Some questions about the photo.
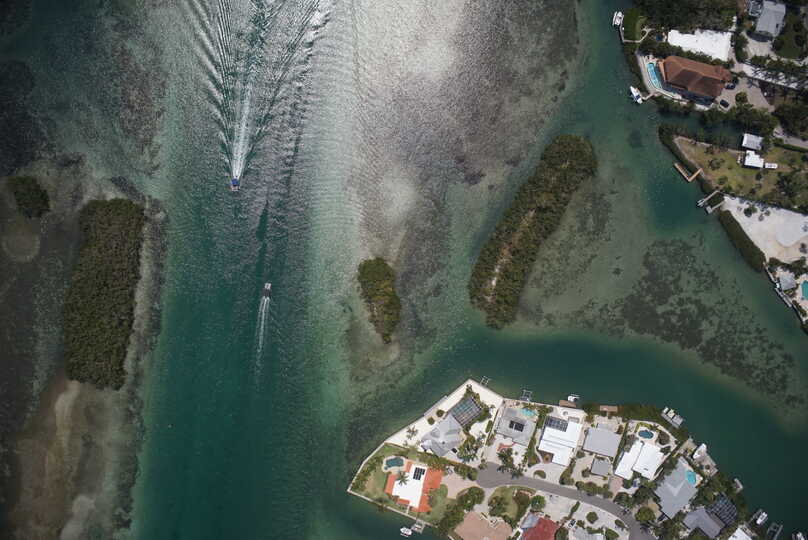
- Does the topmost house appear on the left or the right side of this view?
right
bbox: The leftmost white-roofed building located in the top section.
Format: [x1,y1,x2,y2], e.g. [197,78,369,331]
[666,30,731,61]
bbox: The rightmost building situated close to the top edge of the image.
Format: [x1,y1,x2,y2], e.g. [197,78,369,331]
[752,1,785,39]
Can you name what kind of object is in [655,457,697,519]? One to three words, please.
house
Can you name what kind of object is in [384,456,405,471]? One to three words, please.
swimming pool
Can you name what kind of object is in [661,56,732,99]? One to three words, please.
house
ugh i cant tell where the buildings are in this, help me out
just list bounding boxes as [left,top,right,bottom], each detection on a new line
[591,457,611,476]
[497,410,540,451]
[682,506,725,538]
[421,415,462,456]
[456,512,511,540]
[615,440,664,480]
[724,527,751,540]
[778,275,796,291]
[752,1,785,39]
[520,512,558,540]
[583,423,620,457]
[742,133,763,150]
[743,150,764,167]
[655,457,697,519]
[539,421,582,467]
[666,30,731,61]
[385,460,442,512]
[661,56,732,99]
[571,527,604,540]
